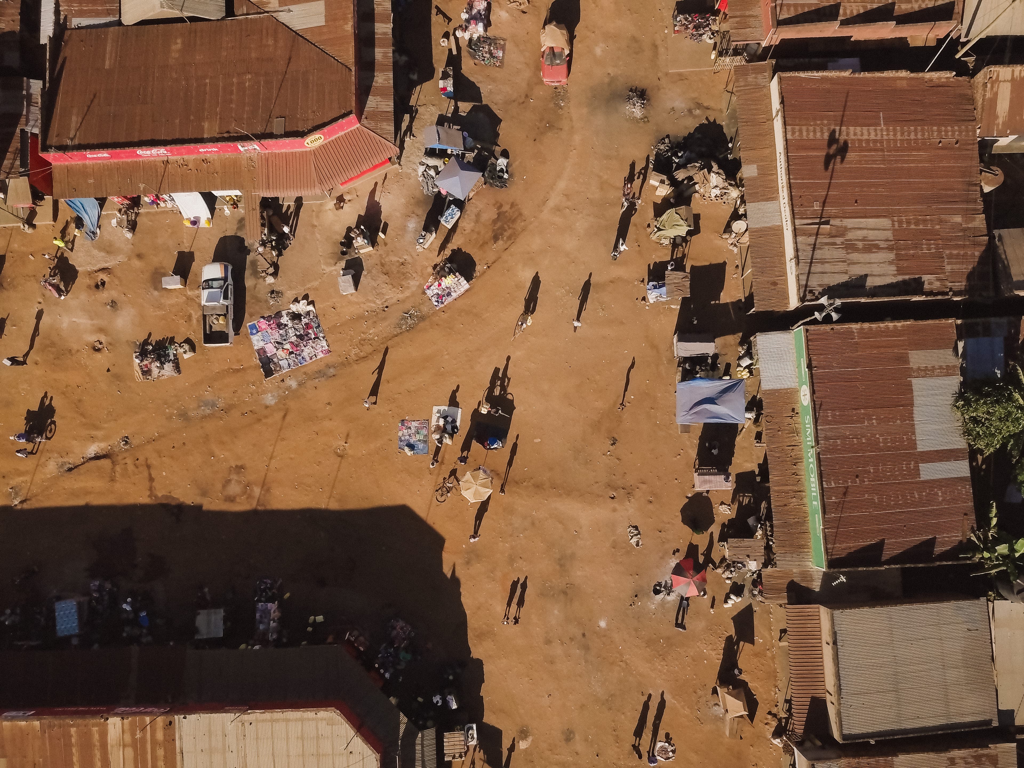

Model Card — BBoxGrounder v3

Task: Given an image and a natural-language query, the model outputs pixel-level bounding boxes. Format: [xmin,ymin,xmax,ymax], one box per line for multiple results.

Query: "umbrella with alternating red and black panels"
[670,558,709,598]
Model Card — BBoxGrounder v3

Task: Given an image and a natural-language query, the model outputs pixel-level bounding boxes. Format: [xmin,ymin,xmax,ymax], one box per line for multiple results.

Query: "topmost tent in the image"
[425,125,463,158]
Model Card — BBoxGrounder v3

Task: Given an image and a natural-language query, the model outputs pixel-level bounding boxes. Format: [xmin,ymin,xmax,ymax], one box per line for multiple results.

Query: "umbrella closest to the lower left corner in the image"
[458,467,495,504]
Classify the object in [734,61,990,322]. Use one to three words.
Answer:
building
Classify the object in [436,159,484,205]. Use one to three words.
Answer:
umbrella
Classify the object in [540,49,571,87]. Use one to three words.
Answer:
car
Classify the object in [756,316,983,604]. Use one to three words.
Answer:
building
